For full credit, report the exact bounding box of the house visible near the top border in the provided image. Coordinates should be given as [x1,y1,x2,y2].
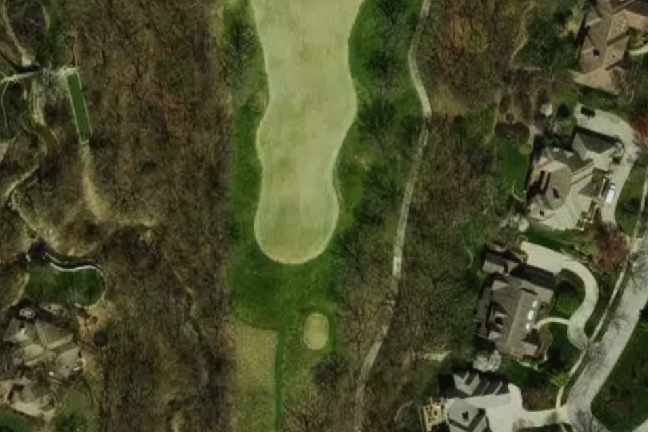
[577,0,648,91]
